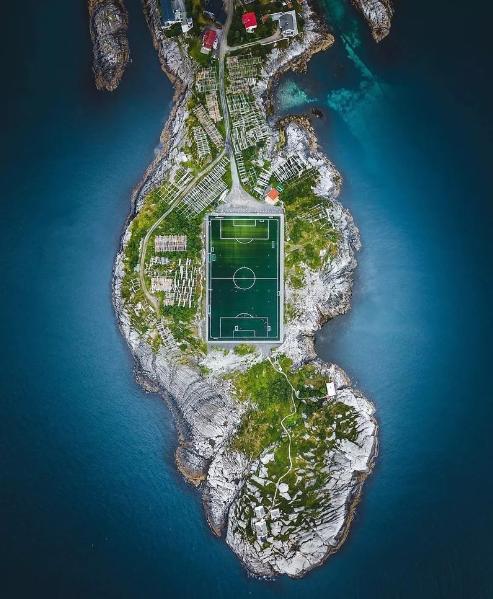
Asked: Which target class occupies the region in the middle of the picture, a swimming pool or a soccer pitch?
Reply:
soccer pitch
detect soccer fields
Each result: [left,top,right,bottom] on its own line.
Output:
[206,213,284,343]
